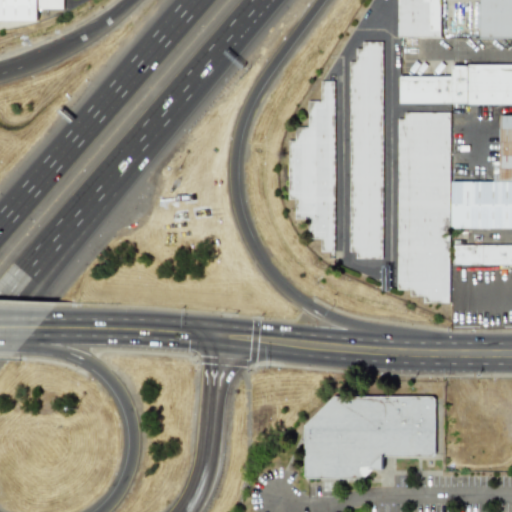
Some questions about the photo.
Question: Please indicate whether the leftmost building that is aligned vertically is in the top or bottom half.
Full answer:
The leftmost building that is aligned vertically is in the top half of the image.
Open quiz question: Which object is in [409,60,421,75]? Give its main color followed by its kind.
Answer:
white vehicle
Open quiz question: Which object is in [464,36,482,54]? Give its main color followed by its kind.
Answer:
white vehicle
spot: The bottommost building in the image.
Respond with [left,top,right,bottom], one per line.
[304,396,438,479]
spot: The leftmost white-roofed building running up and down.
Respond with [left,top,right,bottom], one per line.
[292,80,336,254]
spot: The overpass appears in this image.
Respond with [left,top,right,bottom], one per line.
[0,301,102,382]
